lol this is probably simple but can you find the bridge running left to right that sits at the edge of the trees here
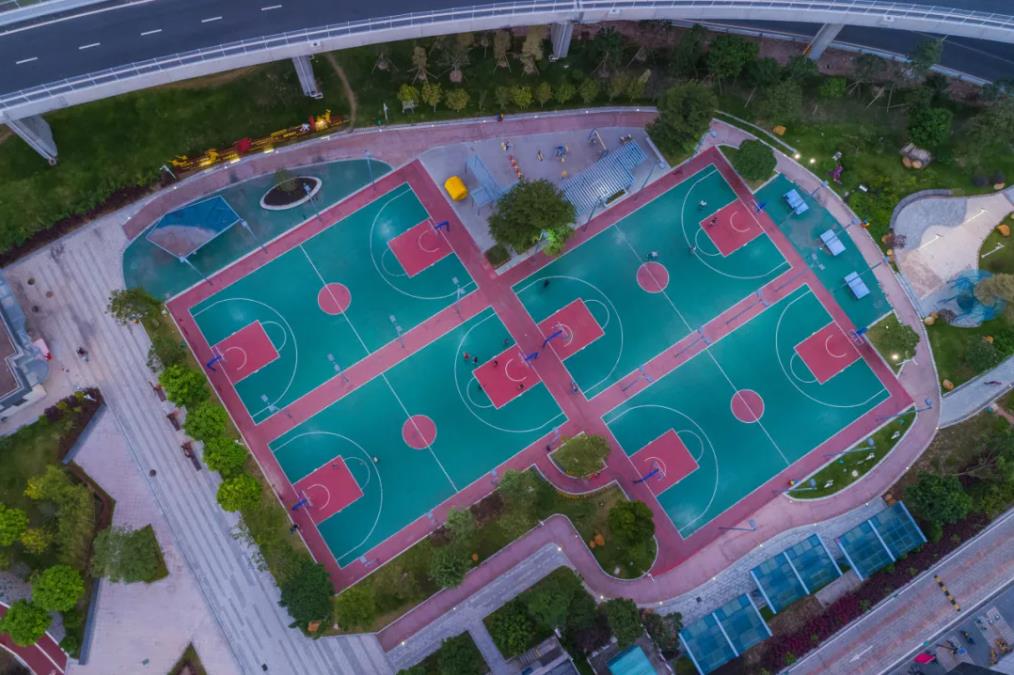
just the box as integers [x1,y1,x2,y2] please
[0,0,1014,163]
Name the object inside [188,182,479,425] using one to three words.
basketball court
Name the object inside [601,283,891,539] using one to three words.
basketball court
